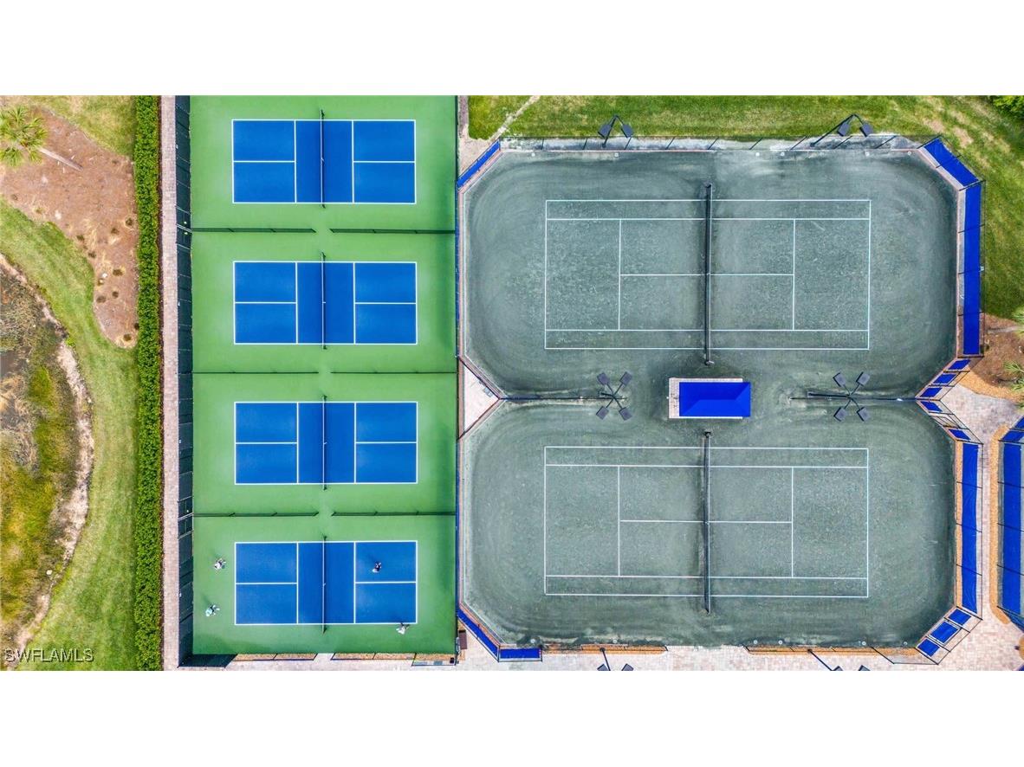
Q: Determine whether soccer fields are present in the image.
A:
No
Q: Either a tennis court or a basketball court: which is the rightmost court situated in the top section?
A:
tennis court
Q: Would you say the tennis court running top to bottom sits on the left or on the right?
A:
right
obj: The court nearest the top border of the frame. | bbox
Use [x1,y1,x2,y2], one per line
[189,90,453,229]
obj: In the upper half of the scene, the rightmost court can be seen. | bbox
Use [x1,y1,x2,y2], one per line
[460,148,960,398]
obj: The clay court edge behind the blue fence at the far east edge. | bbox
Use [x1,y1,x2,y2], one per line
[999,417,1024,619]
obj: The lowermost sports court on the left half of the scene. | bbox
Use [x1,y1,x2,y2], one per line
[192,514,454,654]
